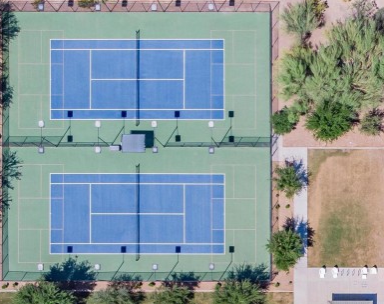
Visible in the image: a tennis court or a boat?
tennis court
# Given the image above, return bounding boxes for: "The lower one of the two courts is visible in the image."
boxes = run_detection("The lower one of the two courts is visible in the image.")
[1,147,271,279]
